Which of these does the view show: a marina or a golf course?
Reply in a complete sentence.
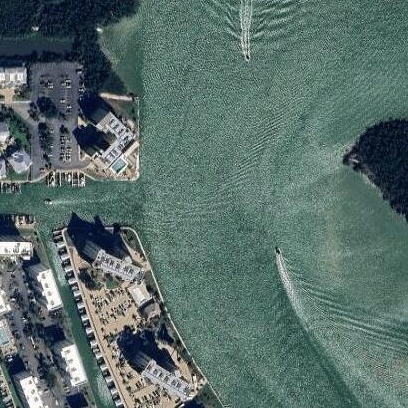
What you see here is a marina.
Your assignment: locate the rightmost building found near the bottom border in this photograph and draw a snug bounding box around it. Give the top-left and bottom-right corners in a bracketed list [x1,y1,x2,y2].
[130,351,192,402]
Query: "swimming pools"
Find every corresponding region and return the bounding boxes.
[110,157,129,177]
[0,324,12,347]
